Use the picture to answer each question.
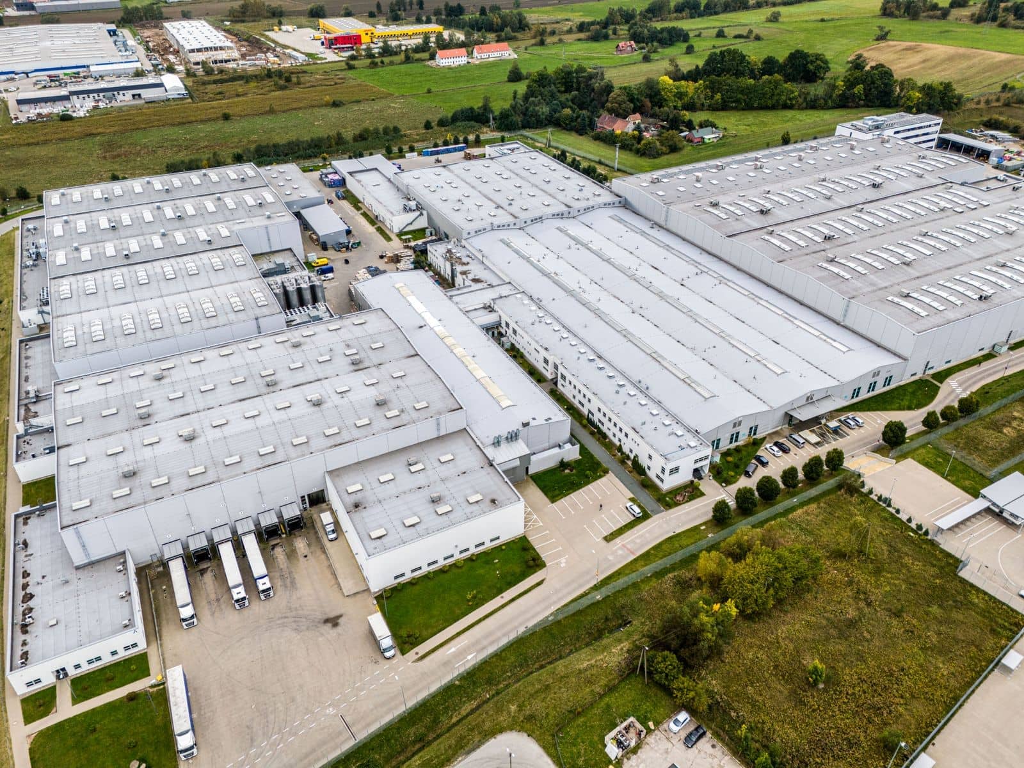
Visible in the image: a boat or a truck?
truck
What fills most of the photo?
buildings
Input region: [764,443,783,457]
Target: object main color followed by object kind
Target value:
white car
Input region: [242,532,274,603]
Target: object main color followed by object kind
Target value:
white truck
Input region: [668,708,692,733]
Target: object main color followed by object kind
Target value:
white car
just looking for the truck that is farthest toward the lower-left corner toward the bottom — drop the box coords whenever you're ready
[165,662,200,764]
